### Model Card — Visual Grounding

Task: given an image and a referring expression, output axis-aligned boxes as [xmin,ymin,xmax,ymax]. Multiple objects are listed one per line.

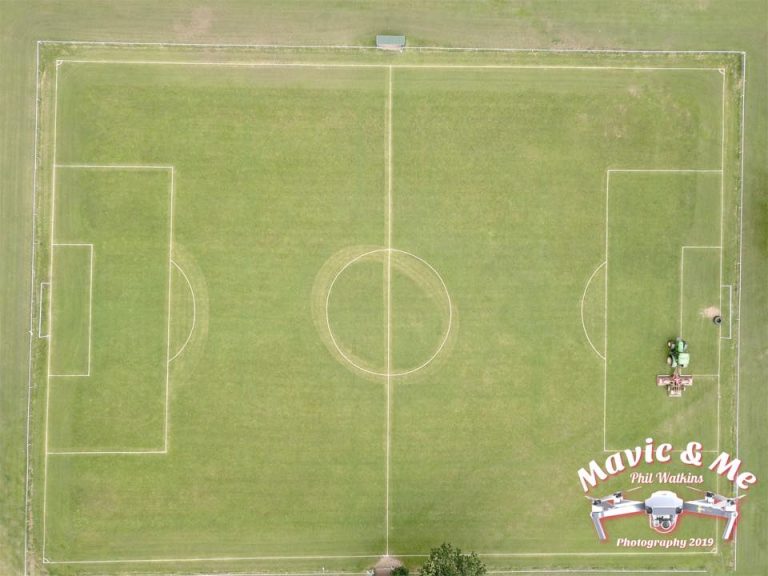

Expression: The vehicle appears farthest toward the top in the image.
[667,335,689,367]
